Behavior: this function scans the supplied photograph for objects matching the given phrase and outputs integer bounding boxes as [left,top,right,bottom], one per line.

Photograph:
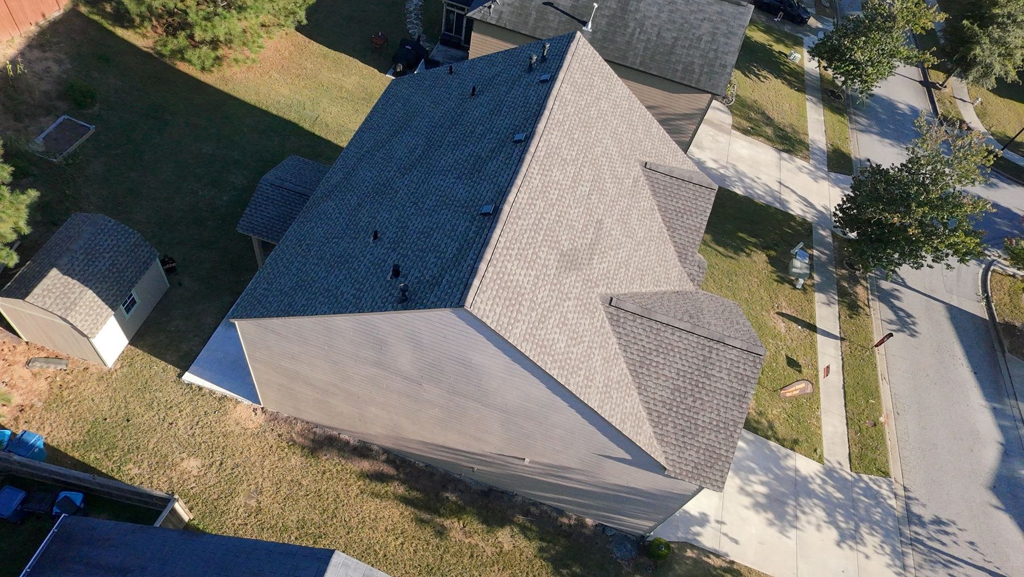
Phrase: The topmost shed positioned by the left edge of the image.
[0,212,175,370]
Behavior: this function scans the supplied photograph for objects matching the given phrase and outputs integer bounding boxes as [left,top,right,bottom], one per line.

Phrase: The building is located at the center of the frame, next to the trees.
[229,30,768,542]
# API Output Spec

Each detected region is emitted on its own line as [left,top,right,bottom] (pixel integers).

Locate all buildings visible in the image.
[0,212,175,370]
[229,30,768,542]
[14,512,378,577]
